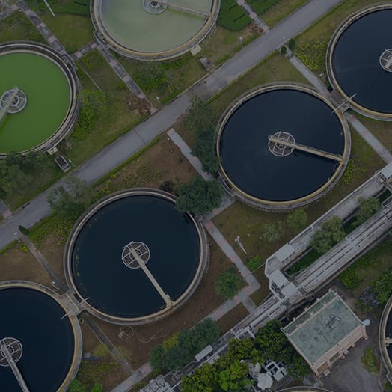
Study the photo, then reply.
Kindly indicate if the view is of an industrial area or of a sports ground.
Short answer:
industrial area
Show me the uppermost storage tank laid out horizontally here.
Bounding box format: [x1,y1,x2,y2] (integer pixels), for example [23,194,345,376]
[91,0,221,62]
